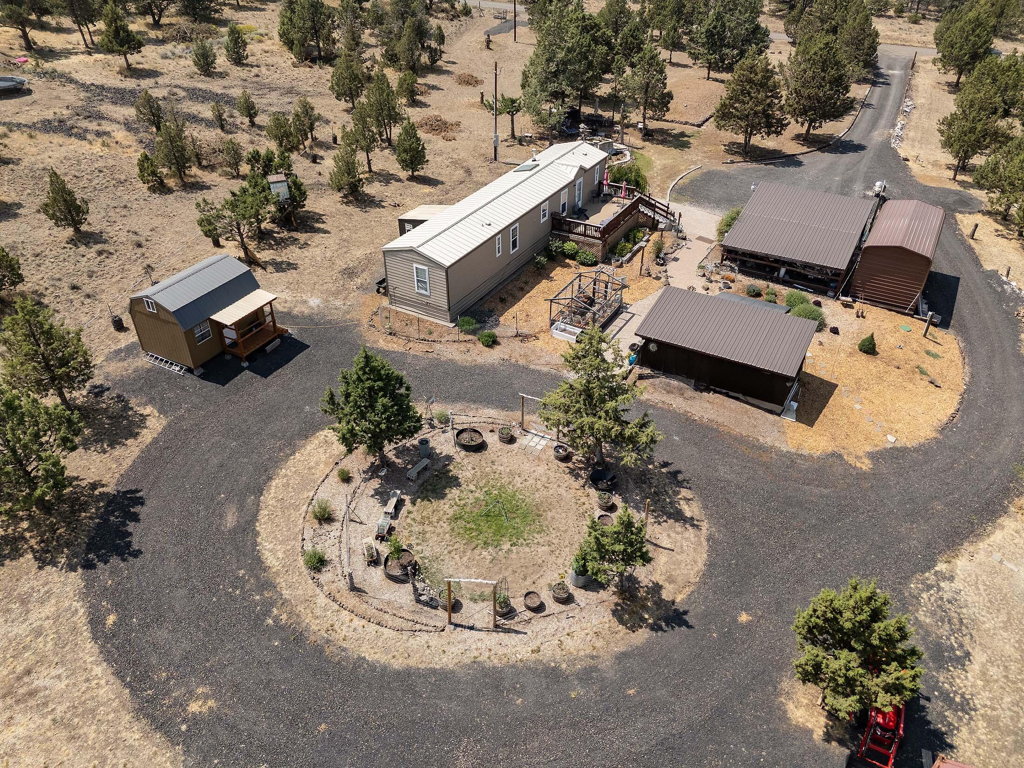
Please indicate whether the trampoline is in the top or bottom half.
top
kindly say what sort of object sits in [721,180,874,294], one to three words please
barn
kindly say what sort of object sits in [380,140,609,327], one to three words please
house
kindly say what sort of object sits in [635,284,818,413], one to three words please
shed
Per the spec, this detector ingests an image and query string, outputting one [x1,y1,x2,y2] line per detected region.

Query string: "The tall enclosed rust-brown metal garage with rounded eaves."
[846,198,944,327]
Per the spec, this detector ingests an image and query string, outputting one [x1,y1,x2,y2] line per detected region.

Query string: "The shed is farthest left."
[126,254,293,375]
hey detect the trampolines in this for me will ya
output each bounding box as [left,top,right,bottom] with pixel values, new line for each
[0,79,30,99]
